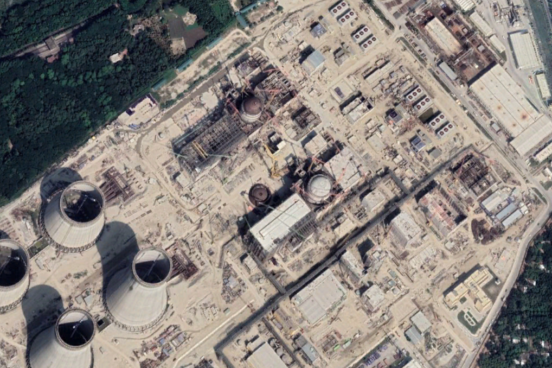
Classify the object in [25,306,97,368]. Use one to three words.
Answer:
cooling tower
